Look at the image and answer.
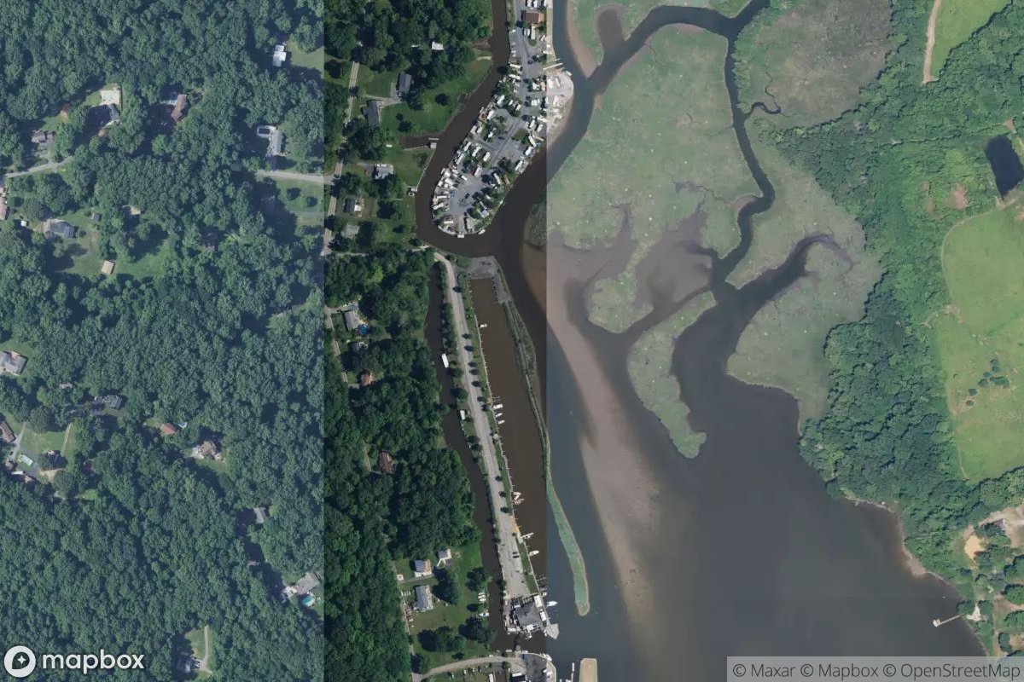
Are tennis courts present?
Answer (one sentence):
No, I can see no tennis court in this picture.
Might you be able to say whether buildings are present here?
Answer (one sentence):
Yes, looking at the shot, I can spot a building.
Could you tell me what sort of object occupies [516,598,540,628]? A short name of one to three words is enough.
building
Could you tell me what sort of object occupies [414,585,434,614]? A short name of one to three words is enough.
house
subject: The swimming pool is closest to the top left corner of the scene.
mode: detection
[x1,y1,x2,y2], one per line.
[100,88,121,104]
